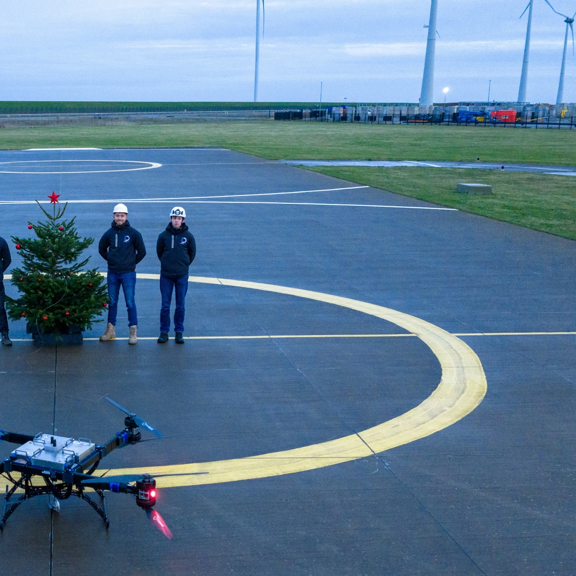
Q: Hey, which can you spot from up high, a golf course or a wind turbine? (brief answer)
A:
wind turbine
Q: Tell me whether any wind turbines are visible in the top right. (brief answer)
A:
Yes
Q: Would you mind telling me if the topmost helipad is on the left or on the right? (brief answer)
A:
left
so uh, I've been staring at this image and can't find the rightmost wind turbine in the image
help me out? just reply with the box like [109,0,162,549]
[551,0,576,99]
